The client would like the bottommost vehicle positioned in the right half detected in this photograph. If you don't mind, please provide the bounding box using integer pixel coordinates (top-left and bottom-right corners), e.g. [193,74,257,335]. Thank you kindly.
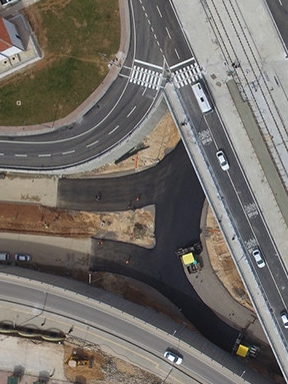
[163,348,184,363]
